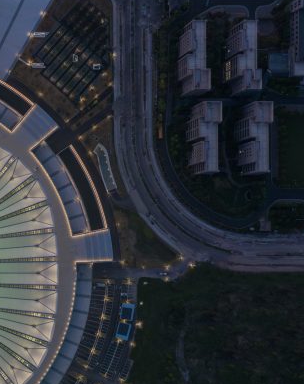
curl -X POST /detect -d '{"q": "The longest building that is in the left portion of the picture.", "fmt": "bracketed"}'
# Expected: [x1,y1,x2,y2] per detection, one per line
[93,143,117,192]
